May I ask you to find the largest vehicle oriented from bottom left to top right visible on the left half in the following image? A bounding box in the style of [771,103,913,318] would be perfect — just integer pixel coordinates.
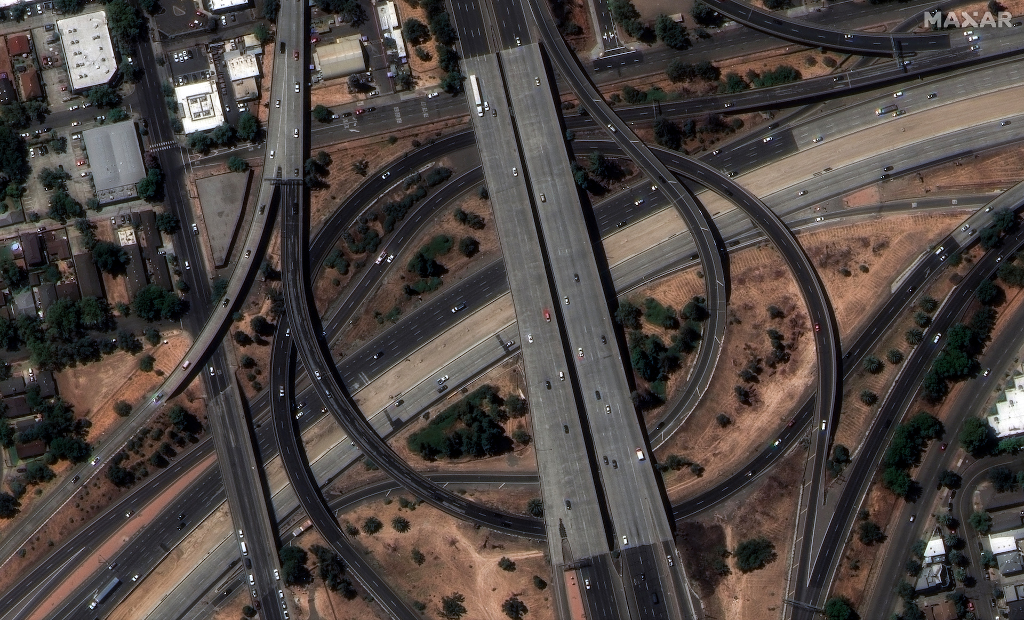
[89,576,120,606]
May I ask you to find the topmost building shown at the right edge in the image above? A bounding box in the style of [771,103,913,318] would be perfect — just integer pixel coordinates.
[988,374,1024,437]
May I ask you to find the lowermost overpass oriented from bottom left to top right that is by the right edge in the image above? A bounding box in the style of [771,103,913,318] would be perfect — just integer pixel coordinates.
[949,181,1024,249]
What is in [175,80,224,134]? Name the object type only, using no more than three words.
building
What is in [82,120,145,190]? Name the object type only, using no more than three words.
building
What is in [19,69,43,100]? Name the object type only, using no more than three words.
house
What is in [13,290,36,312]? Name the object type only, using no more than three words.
house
